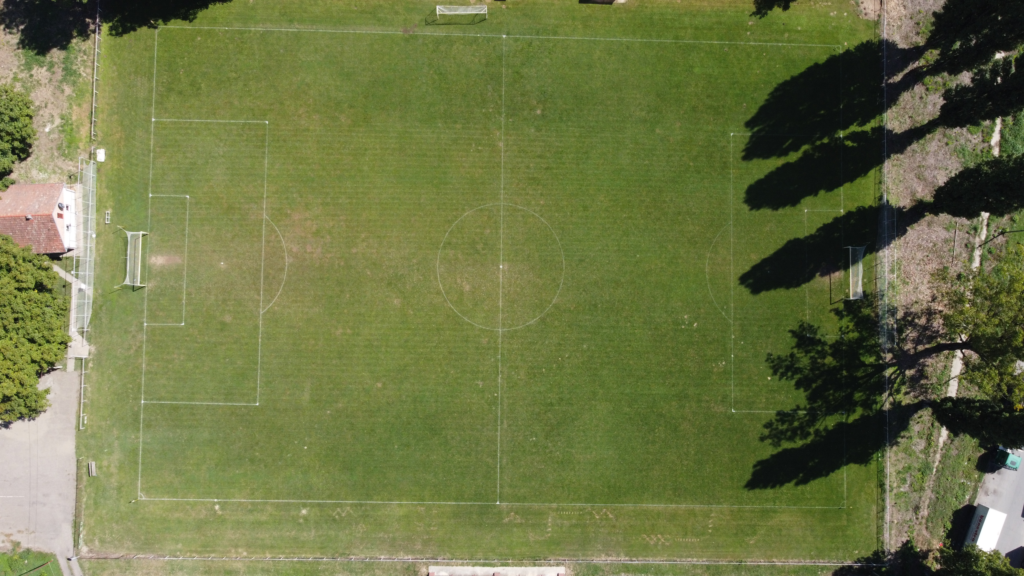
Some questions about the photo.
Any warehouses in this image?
No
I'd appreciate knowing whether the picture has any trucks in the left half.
No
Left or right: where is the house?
left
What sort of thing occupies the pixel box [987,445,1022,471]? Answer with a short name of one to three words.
truck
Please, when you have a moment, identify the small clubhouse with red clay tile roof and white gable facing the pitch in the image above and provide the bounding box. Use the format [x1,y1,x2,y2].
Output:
[0,183,76,255]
